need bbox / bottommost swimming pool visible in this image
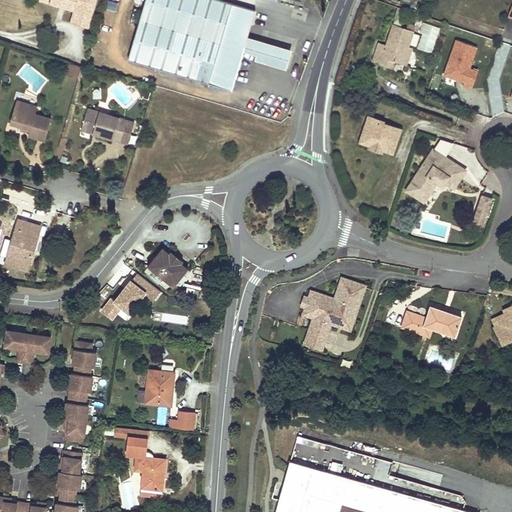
[120,479,140,512]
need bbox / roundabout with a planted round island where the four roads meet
[224,156,338,272]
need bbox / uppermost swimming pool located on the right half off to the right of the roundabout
[412,212,452,243]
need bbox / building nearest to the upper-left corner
[42,0,100,30]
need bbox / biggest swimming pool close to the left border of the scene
[16,62,48,95]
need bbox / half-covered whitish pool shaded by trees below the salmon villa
[424,345,460,373]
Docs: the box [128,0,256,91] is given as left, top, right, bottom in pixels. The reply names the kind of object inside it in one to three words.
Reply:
building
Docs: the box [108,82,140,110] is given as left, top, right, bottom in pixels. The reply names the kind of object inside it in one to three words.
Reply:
swimming pool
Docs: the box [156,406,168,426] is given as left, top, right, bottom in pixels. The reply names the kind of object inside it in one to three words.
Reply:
swimming pool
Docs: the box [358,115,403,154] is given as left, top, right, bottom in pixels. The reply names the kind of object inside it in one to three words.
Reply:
house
